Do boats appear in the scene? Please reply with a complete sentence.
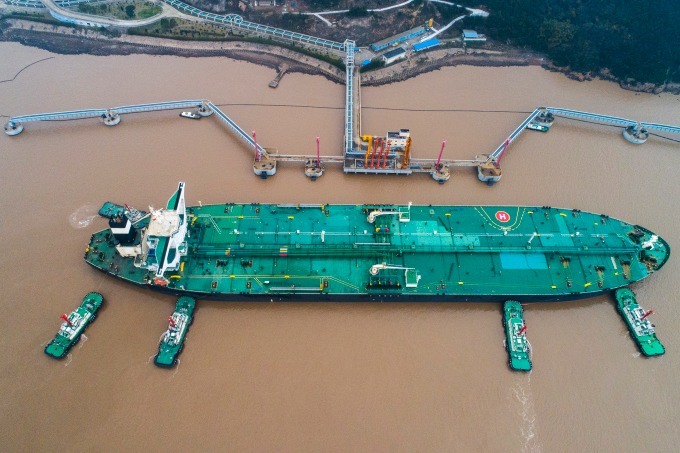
Yes, the photo shows a boat.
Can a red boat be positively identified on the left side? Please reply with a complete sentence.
No, there is no red boat on the left side.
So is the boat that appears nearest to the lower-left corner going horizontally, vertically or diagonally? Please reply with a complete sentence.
Seen from above, the boat that appears nearest to the lower-left corner lies diagonally.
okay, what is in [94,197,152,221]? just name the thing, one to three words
boat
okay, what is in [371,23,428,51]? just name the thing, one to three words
building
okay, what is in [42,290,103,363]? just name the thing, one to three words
boat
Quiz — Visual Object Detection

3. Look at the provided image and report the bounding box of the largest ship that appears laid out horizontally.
[83,179,671,302]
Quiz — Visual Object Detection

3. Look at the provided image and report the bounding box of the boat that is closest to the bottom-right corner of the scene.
[617,286,666,357]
